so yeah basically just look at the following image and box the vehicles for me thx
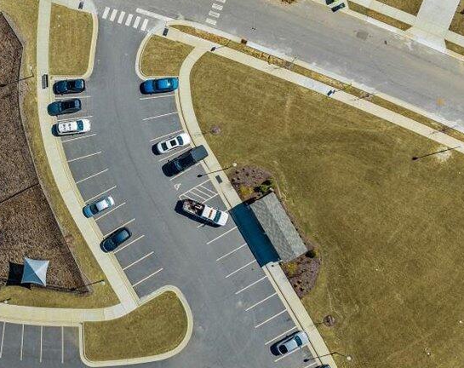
[165,144,213,175]
[53,79,85,95]
[278,333,311,355]
[59,118,92,135]
[181,198,230,223]
[158,133,192,154]
[142,78,179,94]
[47,99,82,116]
[82,196,116,218]
[100,228,134,252]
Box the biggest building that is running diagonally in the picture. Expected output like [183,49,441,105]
[246,193,308,263]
